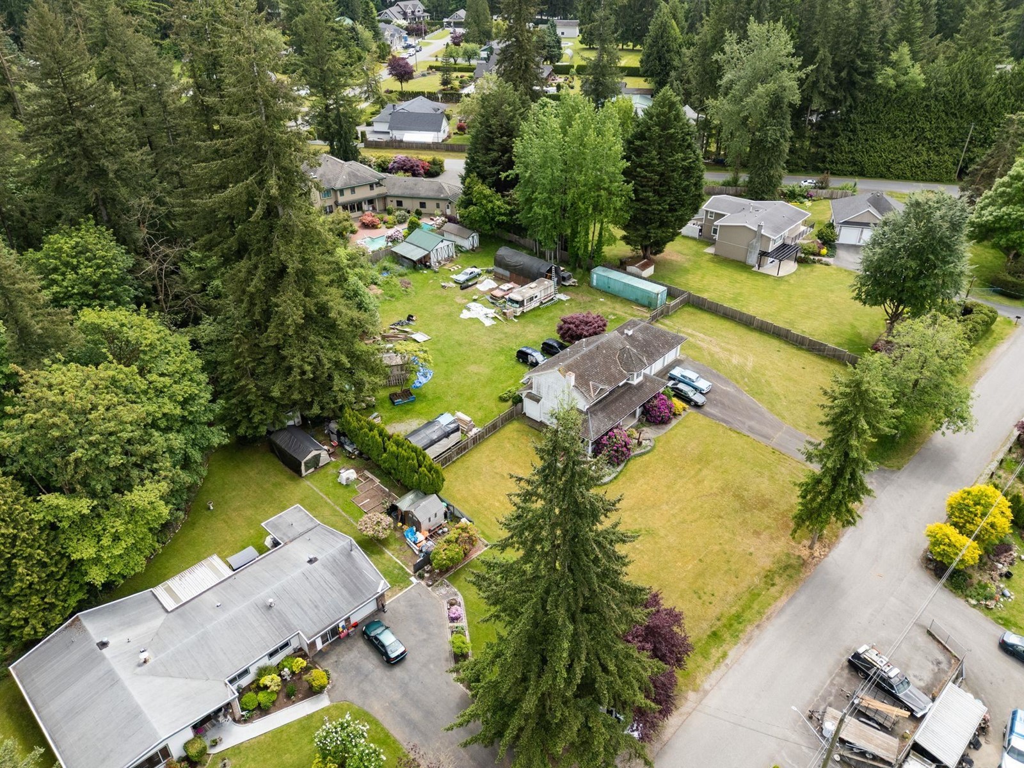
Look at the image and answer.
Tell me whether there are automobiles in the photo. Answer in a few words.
Yes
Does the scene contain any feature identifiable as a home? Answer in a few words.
Yes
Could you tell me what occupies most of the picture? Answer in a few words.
trees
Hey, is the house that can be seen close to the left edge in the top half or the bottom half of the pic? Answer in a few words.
bottom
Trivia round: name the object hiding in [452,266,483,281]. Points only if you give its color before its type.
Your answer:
white car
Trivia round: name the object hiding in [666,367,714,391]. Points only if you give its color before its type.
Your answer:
white car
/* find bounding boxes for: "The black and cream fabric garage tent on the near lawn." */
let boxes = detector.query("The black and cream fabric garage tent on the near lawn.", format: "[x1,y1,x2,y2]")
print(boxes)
[260,421,330,475]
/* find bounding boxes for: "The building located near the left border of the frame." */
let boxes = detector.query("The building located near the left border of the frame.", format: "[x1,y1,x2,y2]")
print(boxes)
[9,506,391,768]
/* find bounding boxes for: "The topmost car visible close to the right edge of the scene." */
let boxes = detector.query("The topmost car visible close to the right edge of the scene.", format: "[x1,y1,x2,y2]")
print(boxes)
[980,625,1024,668]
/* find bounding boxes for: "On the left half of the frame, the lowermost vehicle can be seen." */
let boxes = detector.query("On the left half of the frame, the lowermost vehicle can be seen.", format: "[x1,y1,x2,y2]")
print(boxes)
[364,612,410,664]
